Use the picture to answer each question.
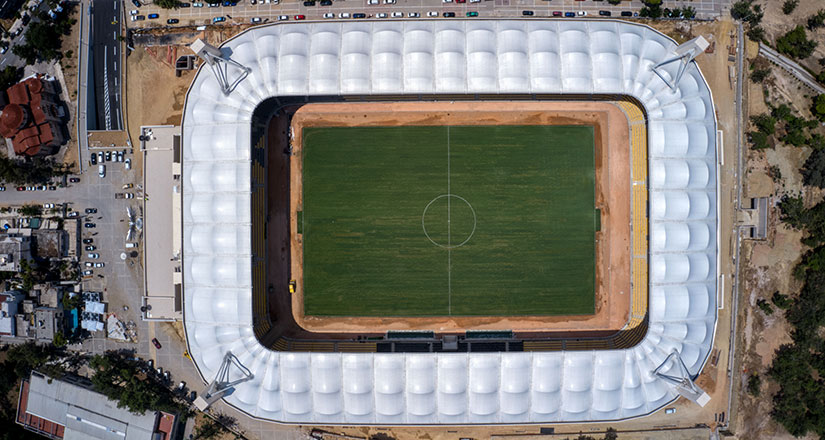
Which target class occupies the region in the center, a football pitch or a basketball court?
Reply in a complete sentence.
Visible in the center is a football pitch.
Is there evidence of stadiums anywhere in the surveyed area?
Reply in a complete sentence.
Yes, there is a stadium in the image.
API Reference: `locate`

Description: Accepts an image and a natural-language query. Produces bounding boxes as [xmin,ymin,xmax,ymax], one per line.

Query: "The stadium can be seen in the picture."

[180,19,720,427]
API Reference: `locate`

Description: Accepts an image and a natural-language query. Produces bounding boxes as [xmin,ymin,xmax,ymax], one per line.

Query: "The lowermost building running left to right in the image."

[12,363,187,440]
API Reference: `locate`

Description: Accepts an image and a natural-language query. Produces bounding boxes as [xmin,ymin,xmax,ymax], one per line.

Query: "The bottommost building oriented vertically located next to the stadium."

[139,125,180,321]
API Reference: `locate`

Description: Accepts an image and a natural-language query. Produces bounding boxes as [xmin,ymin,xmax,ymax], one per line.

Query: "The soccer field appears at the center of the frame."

[296,123,601,319]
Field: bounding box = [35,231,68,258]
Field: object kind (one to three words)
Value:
house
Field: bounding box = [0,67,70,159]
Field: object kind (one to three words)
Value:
building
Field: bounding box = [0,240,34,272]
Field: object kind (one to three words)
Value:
house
